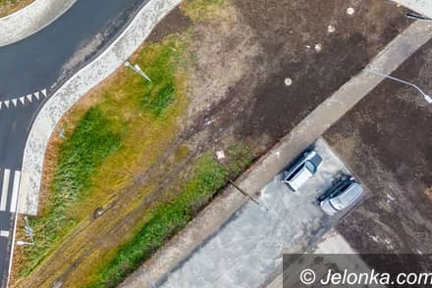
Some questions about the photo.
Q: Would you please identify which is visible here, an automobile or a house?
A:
automobile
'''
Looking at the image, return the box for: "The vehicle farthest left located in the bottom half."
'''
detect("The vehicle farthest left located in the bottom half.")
[278,152,320,195]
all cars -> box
[278,152,320,195]
[317,173,363,213]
